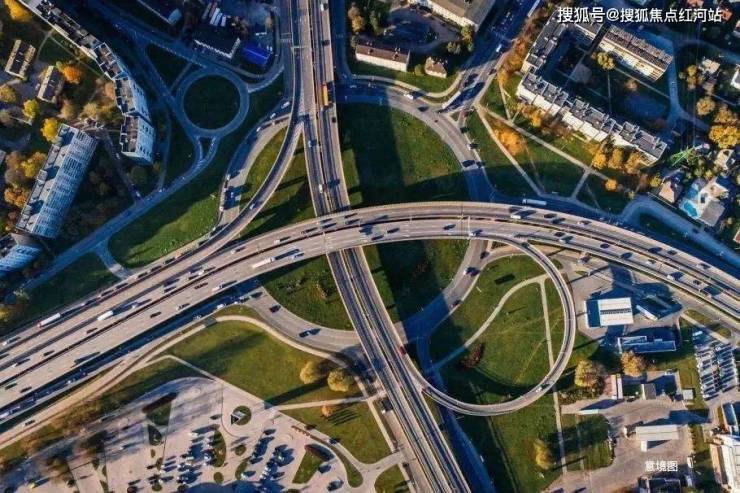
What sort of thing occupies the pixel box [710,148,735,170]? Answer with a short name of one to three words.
house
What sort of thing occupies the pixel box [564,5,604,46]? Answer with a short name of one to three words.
building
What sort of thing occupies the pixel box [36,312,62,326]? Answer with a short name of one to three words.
vehicle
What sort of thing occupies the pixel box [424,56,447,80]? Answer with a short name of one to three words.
house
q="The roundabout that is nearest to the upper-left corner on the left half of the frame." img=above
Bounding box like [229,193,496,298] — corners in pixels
[176,66,248,138]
